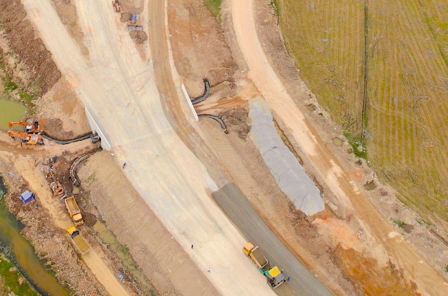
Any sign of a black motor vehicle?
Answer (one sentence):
No, there is no black motor vehicle in the image.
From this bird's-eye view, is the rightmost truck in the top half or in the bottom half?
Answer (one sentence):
Seen from above, the rightmost truck lies in the bottom half of the view.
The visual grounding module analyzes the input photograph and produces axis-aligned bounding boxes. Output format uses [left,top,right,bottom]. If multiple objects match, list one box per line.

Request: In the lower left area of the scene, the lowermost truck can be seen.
[63,222,93,257]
